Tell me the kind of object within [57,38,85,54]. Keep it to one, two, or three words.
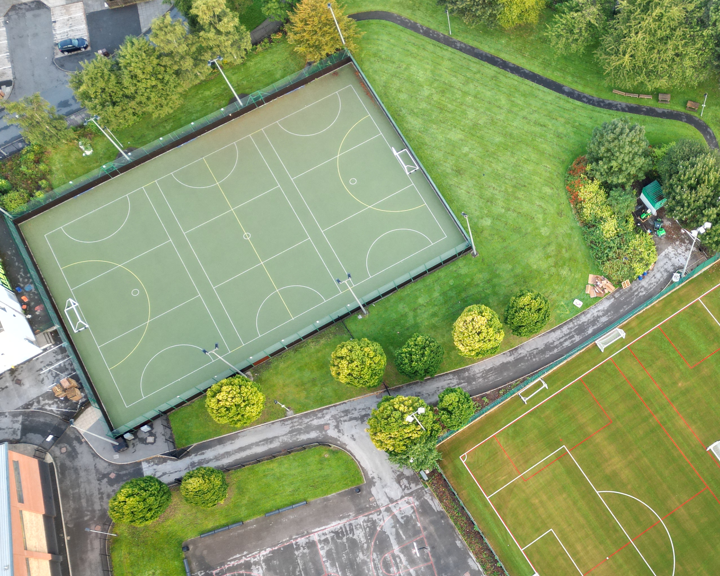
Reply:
car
